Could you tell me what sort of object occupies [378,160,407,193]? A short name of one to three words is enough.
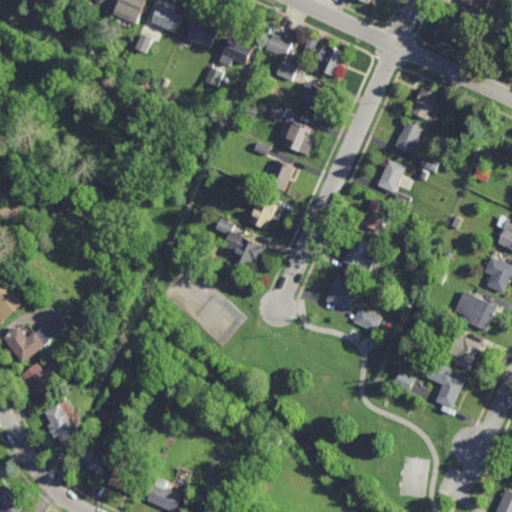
house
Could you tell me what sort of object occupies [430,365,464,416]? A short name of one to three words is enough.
house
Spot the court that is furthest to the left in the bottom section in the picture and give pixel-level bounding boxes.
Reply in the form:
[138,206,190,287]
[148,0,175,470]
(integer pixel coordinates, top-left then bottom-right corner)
[166,282,248,346]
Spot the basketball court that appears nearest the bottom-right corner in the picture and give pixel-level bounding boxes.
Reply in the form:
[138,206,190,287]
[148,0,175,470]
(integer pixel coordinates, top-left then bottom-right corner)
[400,457,430,498]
